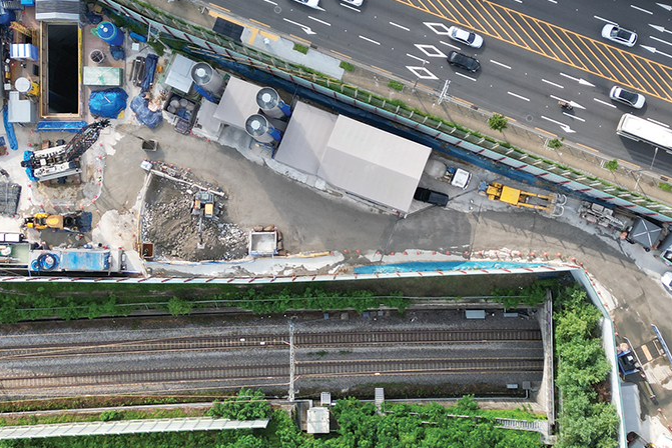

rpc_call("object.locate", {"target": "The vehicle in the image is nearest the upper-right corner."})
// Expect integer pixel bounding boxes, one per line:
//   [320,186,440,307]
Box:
[598,22,639,47]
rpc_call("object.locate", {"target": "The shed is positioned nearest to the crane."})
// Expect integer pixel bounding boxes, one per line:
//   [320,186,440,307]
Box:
[9,101,42,124]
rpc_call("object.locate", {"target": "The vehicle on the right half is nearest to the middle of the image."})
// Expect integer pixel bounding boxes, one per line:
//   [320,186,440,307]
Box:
[410,184,454,210]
